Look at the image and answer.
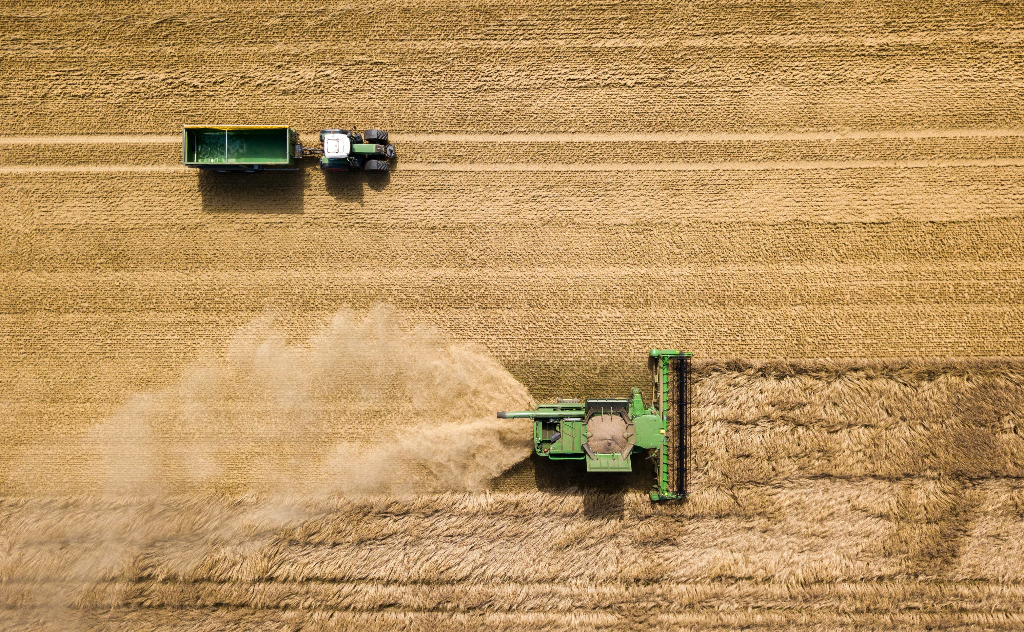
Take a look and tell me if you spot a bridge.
No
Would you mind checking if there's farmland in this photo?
Yes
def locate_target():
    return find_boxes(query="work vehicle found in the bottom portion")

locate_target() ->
[497,349,693,500]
